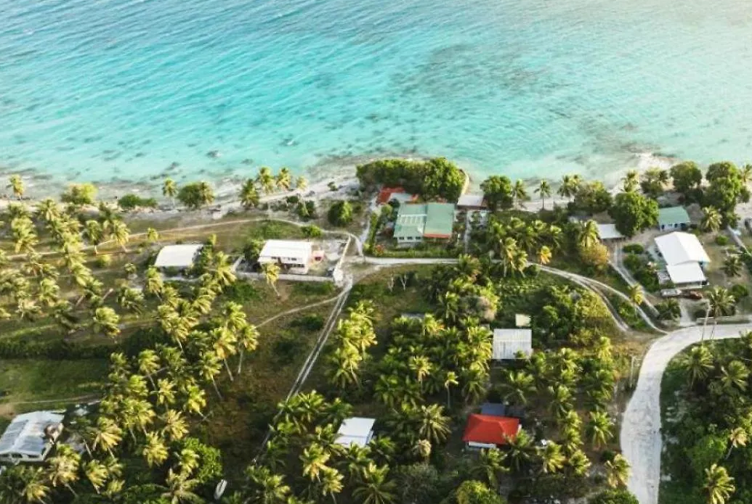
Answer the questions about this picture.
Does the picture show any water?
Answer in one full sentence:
Yes, there's water in this view.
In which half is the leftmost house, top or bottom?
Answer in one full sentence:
Seen from above, the leftmost house lies in the bottom half of the view.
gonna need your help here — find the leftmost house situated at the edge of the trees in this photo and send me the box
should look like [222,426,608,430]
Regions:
[0,410,70,466]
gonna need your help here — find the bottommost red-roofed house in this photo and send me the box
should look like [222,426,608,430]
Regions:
[464,414,519,453]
